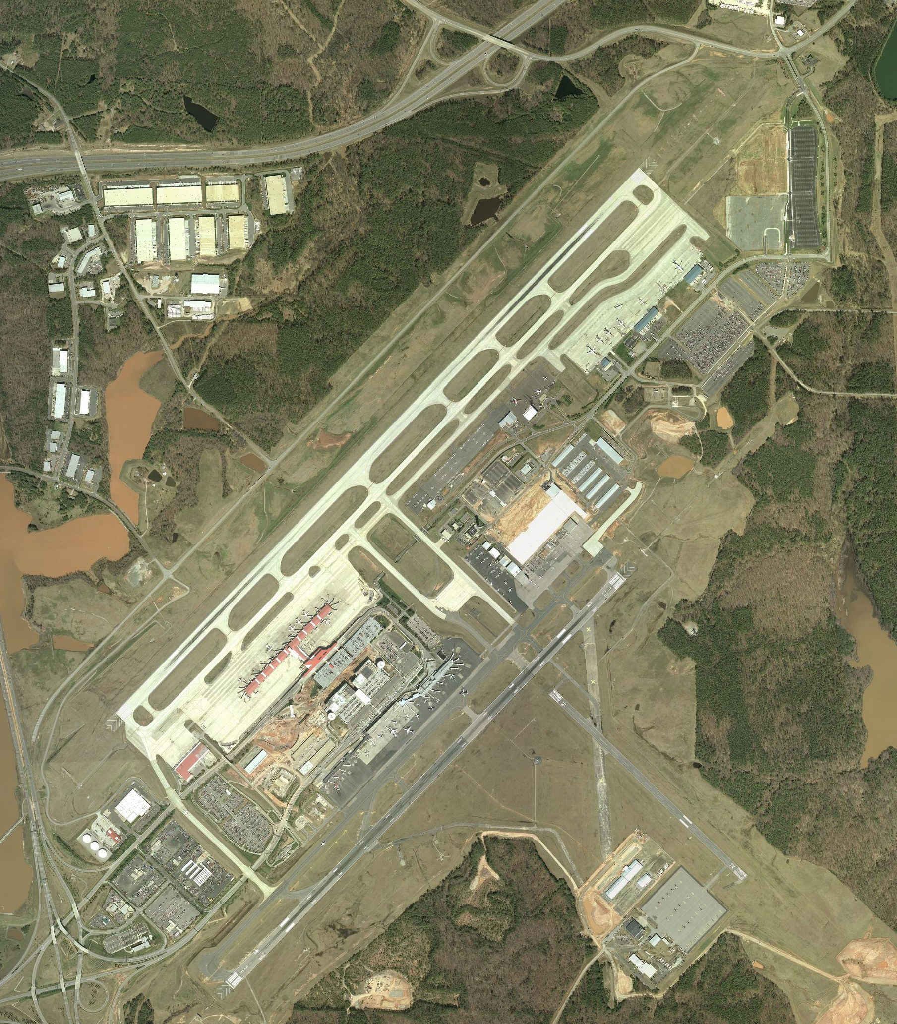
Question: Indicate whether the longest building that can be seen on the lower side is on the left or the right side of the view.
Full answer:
You can find the longest building that can be seen on the lower side on the left side of the picture.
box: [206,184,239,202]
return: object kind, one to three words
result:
building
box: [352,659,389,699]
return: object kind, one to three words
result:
building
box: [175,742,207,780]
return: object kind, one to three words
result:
hangar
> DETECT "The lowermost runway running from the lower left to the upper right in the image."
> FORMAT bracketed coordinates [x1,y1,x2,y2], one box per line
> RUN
[226,572,626,989]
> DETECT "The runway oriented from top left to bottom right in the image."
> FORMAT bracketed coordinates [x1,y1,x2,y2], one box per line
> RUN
[549,689,747,881]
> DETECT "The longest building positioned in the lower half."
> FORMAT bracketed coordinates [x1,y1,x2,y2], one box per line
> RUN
[237,594,339,702]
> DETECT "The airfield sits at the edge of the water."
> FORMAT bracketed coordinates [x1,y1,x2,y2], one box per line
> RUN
[107,163,747,998]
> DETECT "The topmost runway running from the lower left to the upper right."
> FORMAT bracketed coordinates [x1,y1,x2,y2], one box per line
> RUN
[116,168,647,721]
